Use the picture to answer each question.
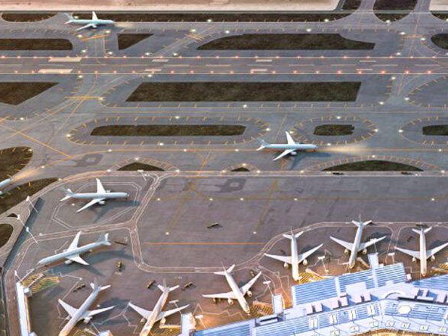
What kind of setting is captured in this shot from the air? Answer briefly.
airport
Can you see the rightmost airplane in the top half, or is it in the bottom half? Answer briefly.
bottom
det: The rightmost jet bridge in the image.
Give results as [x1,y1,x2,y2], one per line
[433,260,448,273]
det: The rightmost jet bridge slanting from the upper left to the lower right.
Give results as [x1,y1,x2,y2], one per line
[356,254,370,270]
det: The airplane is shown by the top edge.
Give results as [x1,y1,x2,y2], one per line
[61,11,115,30]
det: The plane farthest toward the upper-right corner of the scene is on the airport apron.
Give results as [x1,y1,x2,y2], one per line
[255,131,318,160]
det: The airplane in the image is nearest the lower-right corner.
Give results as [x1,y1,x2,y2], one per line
[389,224,448,276]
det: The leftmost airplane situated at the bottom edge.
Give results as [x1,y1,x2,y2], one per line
[56,279,118,336]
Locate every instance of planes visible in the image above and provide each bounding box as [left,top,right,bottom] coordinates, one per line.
[389,224,448,276]
[324,217,391,267]
[61,11,115,30]
[56,279,118,336]
[126,279,191,336]
[255,131,318,160]
[197,261,267,312]
[39,230,112,266]
[58,179,129,212]
[258,230,329,280]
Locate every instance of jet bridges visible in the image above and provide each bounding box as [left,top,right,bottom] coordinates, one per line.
[21,266,38,287]
[26,270,47,297]
[249,299,273,315]
[356,254,370,270]
[151,321,180,334]
[304,266,338,279]
[433,260,448,273]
